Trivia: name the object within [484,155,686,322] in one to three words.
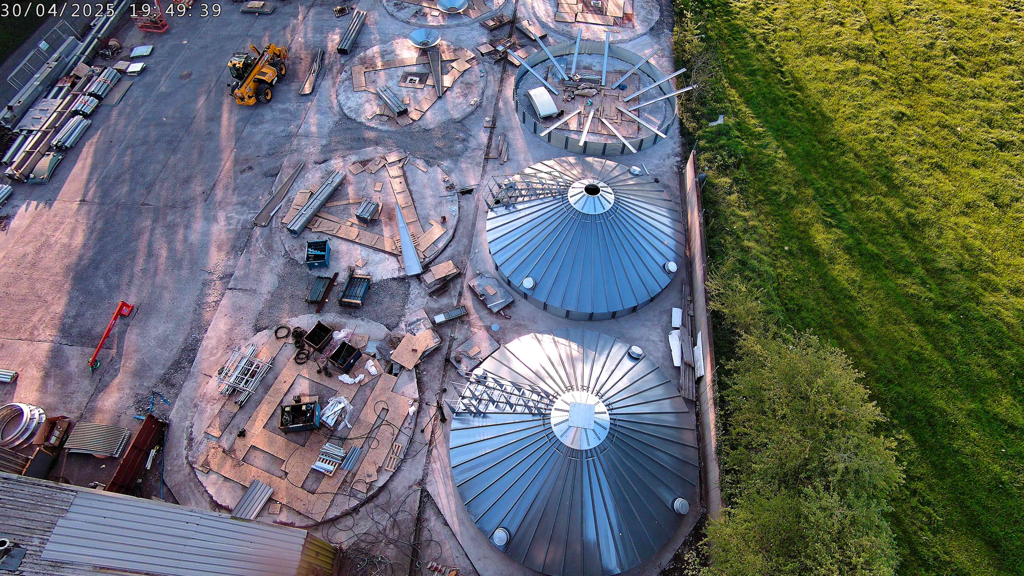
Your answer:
silo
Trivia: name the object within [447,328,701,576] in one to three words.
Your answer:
silo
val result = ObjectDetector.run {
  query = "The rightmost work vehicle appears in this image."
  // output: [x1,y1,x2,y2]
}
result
[215,41,288,105]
